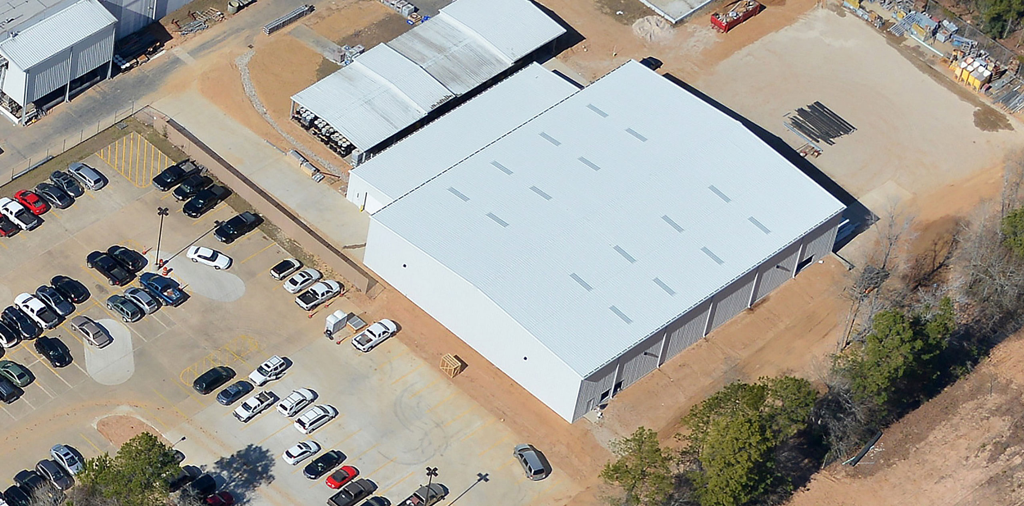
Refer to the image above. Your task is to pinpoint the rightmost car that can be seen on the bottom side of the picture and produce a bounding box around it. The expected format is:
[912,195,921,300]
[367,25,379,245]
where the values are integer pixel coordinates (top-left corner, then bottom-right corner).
[516,445,548,483]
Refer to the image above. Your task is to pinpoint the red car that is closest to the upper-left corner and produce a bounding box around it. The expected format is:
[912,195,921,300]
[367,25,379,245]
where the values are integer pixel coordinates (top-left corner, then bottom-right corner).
[12,190,50,219]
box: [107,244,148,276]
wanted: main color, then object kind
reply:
black car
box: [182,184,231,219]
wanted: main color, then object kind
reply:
black truck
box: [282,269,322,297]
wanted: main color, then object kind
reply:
white car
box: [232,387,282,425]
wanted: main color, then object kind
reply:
white truck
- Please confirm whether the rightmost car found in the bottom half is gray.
Yes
